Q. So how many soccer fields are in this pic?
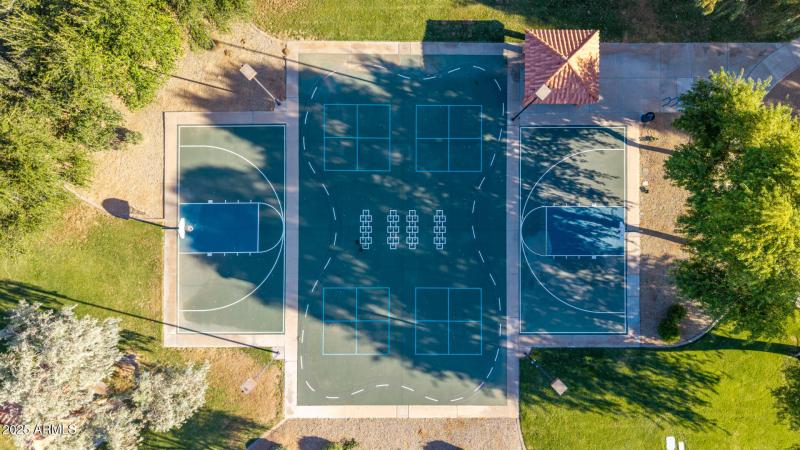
zero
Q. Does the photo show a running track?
No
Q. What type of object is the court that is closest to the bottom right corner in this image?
basketball court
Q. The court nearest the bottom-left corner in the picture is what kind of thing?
basketball court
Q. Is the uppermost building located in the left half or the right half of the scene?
right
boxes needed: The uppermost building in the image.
[523,27,602,105]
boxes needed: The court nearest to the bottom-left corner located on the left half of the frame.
[177,124,285,334]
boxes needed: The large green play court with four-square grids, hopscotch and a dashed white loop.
[298,53,507,406]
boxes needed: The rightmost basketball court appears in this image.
[520,126,626,334]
